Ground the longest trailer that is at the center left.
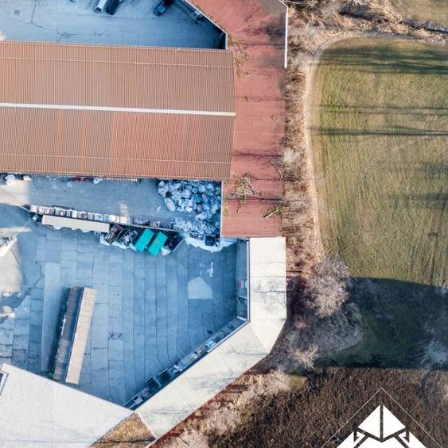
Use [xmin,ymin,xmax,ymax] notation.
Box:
[40,215,112,233]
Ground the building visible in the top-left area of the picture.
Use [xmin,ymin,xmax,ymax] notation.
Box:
[0,40,236,182]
